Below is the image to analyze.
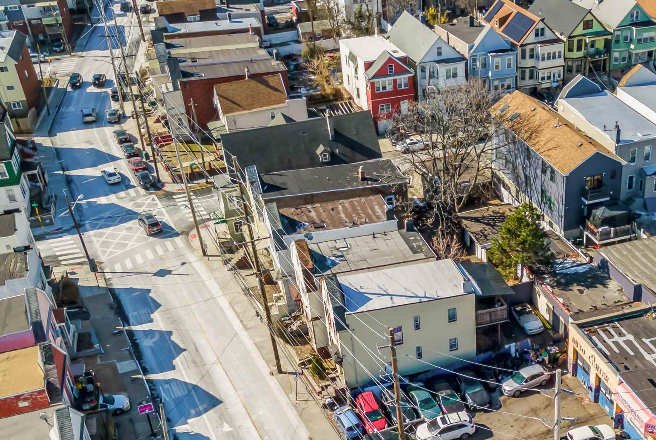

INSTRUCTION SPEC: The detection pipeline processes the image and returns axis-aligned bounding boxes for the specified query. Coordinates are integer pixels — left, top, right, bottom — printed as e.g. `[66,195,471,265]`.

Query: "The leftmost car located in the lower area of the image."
[56,303,104,329]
